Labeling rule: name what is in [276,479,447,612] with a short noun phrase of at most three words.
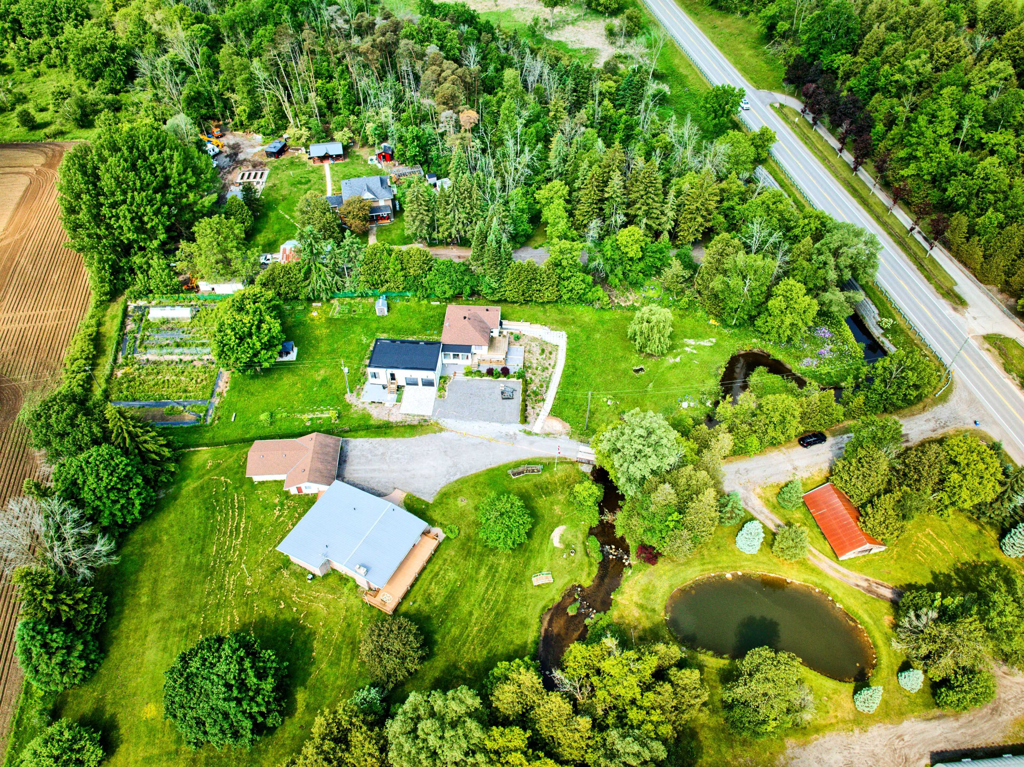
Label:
house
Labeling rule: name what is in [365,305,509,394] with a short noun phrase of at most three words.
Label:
house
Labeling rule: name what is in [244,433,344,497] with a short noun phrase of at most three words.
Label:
building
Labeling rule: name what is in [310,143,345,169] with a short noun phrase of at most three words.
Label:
building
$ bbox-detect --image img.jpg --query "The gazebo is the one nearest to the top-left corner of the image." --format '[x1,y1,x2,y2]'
[264,140,287,161]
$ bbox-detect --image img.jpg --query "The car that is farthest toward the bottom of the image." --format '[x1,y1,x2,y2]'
[798,432,831,449]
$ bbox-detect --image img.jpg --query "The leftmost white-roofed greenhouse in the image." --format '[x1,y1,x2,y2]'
[145,306,195,324]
